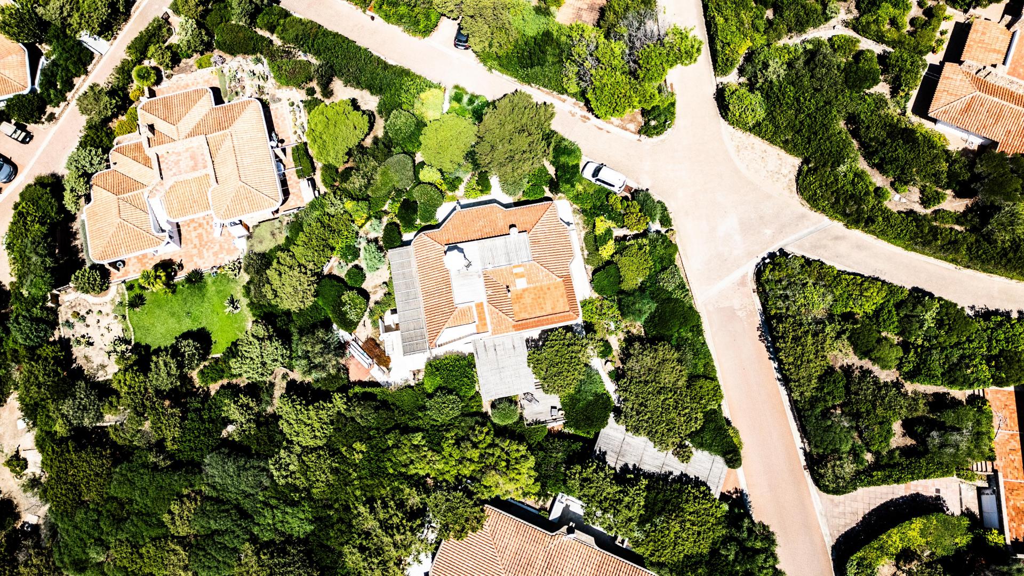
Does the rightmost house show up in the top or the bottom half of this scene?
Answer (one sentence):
You can find the rightmost house in the top half.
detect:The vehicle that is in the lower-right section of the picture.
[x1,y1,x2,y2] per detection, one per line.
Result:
[979,487,1009,527]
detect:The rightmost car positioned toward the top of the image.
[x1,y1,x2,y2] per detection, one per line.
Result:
[581,160,629,194]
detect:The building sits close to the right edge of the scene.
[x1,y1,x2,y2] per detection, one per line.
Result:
[916,0,1024,157]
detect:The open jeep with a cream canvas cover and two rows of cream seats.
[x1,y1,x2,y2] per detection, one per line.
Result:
[0,117,34,149]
